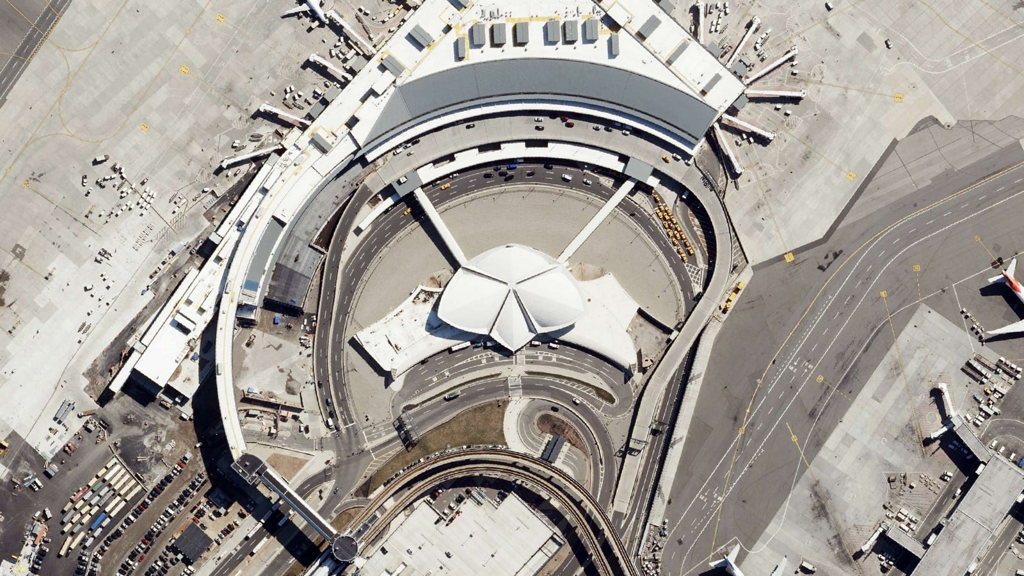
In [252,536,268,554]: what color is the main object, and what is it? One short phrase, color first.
white vehicle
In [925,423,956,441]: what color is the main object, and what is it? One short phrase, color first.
white jet bridge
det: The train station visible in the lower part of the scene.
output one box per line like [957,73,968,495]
[306,541,367,576]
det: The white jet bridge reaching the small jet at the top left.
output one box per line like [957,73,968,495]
[325,9,377,55]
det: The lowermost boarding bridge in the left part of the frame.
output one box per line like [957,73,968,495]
[220,144,285,168]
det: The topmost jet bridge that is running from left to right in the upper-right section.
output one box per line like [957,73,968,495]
[742,87,809,99]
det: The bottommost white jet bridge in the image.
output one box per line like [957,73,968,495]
[860,520,891,553]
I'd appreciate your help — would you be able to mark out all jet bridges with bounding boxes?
[925,423,956,441]
[712,119,744,175]
[742,87,809,99]
[307,53,353,81]
[259,103,311,126]
[725,15,761,69]
[743,46,800,85]
[860,520,891,553]
[937,381,958,413]
[720,112,778,140]
[325,9,377,55]
[220,144,285,168]
[697,0,706,46]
